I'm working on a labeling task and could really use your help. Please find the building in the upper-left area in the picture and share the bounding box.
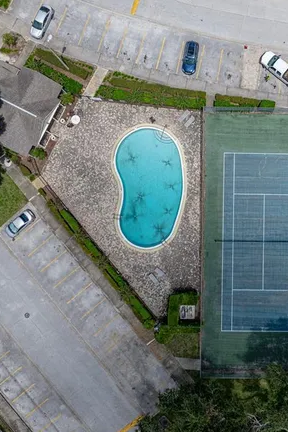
[0,58,64,154]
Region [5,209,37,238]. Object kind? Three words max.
car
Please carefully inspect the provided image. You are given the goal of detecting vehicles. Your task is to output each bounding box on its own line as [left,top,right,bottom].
[181,41,197,74]
[262,55,288,88]
[31,4,53,40]
[5,209,37,238]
